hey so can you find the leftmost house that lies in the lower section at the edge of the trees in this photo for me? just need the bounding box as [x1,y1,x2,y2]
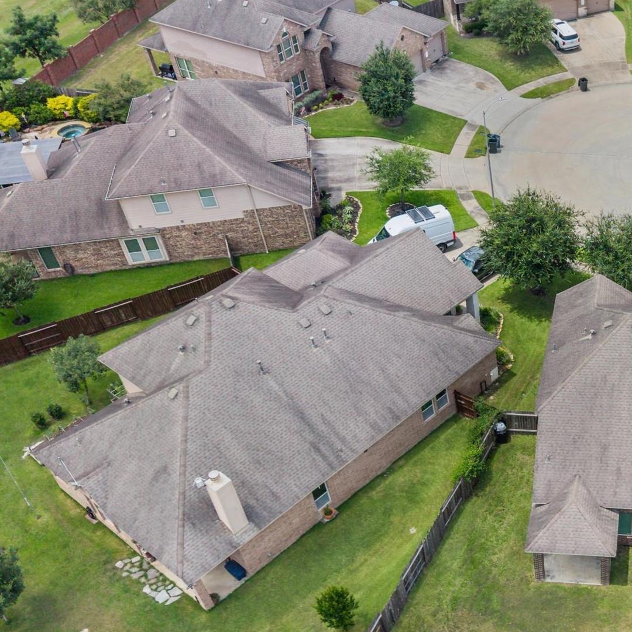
[28,227,502,612]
